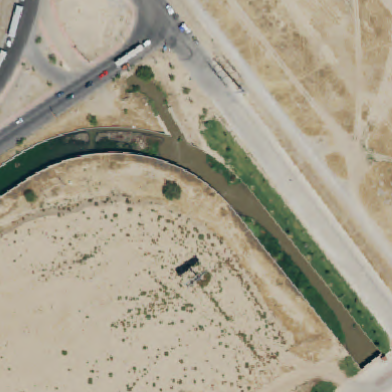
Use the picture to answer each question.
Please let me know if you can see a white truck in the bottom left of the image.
No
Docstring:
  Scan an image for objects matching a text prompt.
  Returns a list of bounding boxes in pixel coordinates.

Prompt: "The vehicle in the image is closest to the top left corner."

[4,4,22,48]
